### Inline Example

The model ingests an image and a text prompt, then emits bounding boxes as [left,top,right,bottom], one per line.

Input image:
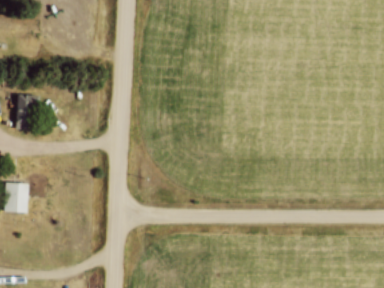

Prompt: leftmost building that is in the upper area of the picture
[17,94,34,130]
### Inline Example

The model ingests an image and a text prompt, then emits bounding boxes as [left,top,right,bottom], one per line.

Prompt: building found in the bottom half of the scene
[5,182,30,214]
